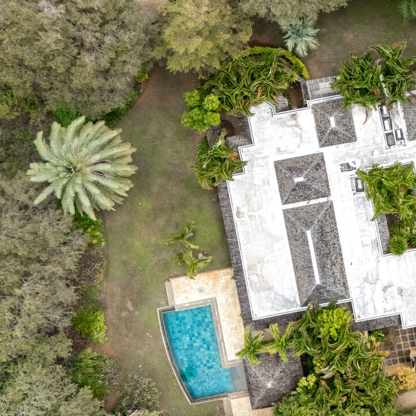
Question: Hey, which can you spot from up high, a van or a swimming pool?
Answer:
swimming pool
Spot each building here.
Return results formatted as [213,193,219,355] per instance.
[218,88,416,374]
[243,347,308,410]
